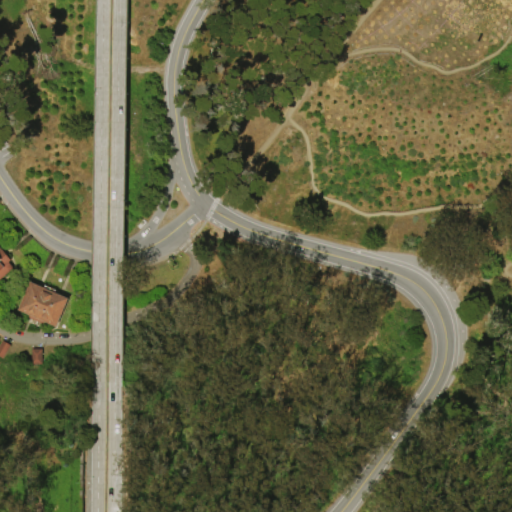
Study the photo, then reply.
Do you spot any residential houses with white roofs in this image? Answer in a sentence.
No, the scene contains no residential house with a white roof.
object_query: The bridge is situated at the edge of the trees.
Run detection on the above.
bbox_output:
[92,0,128,388]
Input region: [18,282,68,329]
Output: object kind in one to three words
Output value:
house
